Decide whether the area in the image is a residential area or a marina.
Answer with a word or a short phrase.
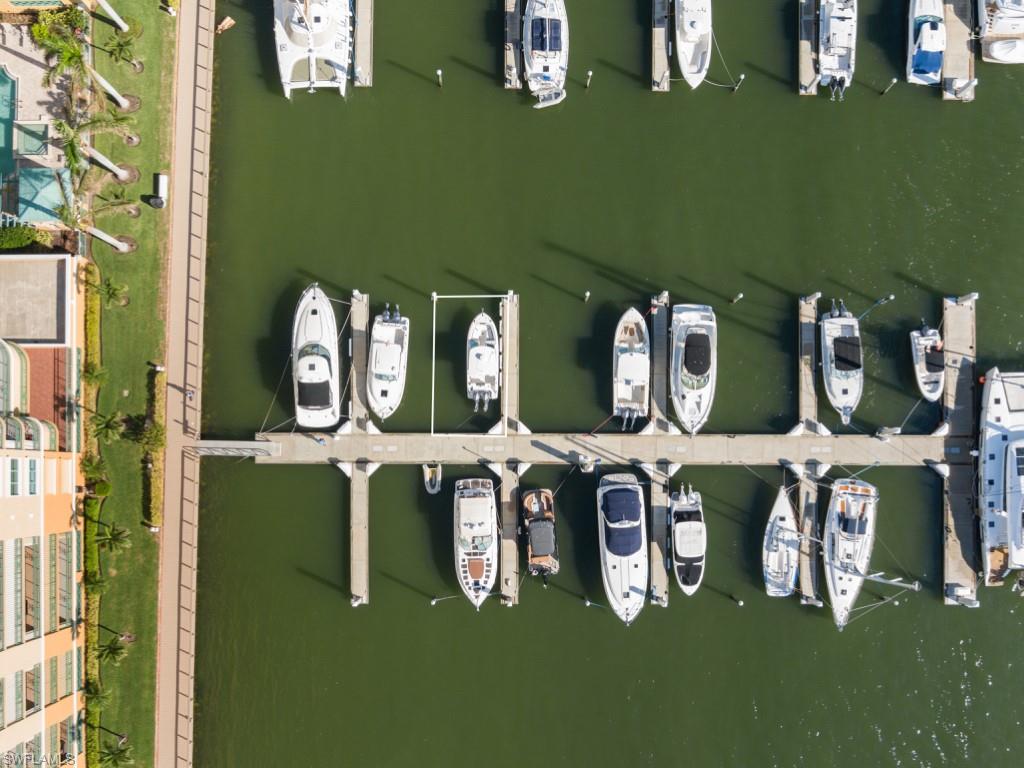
marina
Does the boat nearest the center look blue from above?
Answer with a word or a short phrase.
No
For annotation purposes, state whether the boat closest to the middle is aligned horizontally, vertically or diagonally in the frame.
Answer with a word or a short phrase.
vertically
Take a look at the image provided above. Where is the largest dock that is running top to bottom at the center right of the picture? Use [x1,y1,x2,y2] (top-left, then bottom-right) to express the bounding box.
[941,297,976,605]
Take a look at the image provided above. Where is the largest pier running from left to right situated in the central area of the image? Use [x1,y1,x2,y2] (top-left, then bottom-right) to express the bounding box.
[255,433,943,465]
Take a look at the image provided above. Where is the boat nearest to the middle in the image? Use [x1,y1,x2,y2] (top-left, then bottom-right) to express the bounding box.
[467,308,499,415]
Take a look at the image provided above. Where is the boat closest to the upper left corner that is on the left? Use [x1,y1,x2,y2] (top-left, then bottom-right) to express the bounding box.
[274,0,354,107]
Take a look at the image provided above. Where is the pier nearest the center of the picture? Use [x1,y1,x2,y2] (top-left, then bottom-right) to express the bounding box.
[498,293,519,433]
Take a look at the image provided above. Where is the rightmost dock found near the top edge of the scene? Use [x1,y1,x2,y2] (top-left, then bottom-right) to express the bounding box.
[941,0,974,101]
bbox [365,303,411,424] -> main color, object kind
white boat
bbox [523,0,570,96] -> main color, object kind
white boat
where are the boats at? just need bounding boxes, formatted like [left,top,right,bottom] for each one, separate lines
[817,300,870,425]
[453,479,500,612]
[365,303,411,424]
[274,0,354,107]
[669,478,705,596]
[902,0,946,89]
[817,0,857,104]
[613,306,652,433]
[596,473,648,627]
[294,280,345,429]
[529,93,567,115]
[667,305,716,436]
[674,0,712,94]
[976,367,1024,587]
[909,315,946,402]
[975,0,1024,64]
[762,487,827,596]
[1013,571,1024,598]
[523,0,570,96]
[423,463,441,493]
[823,477,929,630]
[524,488,558,590]
[467,308,499,415]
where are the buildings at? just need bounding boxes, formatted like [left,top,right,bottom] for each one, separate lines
[0,0,69,14]
[0,252,86,768]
